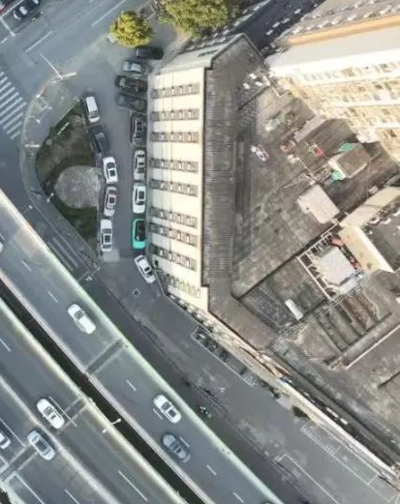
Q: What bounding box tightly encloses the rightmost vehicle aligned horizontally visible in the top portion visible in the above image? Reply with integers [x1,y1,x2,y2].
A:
[133,45,164,59]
